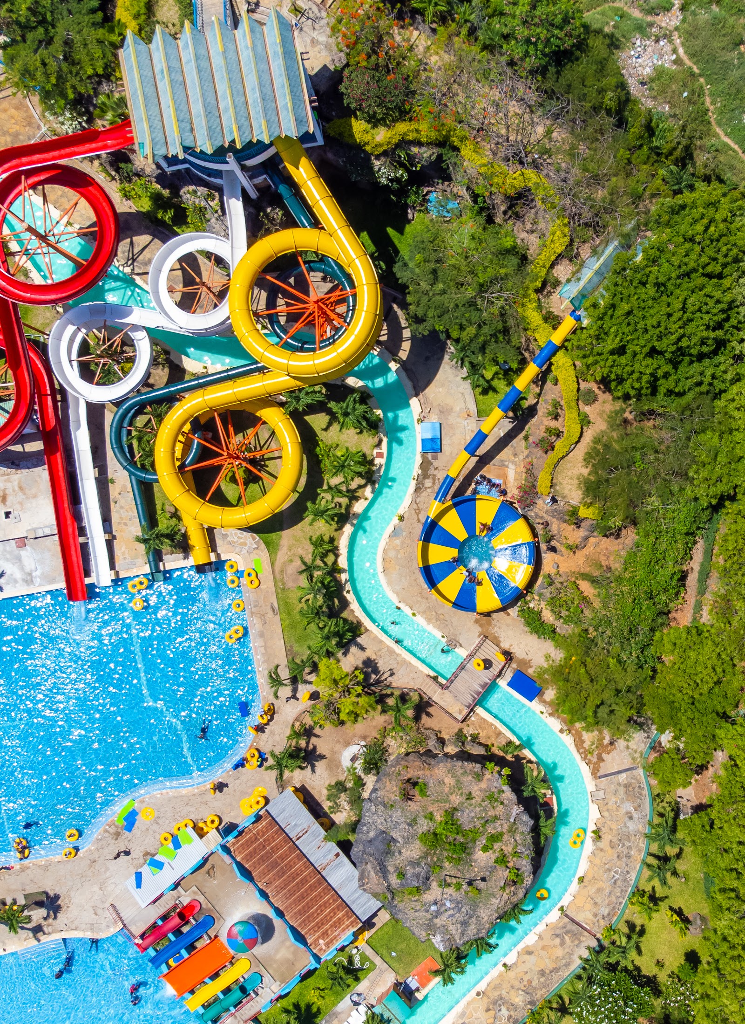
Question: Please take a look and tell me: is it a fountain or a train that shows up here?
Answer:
fountain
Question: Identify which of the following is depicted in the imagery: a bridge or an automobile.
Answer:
bridge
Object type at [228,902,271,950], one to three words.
fountain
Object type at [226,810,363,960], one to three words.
building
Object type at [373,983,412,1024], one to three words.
shed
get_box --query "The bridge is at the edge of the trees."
[416,636,512,725]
